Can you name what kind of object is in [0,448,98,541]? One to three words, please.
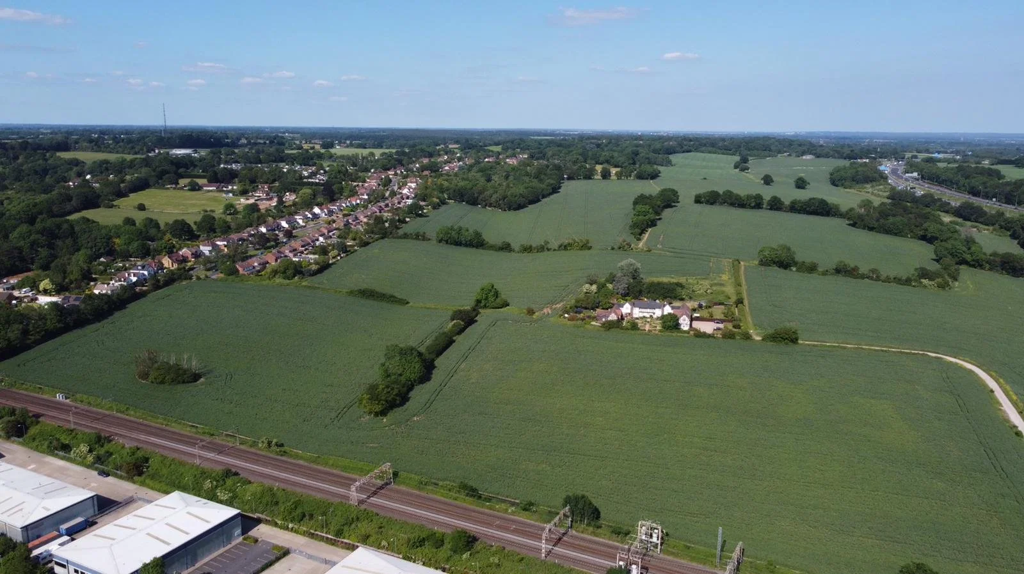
building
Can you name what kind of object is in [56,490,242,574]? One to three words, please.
building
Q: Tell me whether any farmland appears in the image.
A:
Yes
